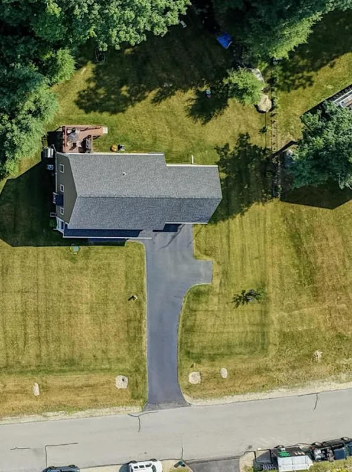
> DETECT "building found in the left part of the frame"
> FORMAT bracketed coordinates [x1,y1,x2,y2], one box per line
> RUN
[39,125,224,240]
